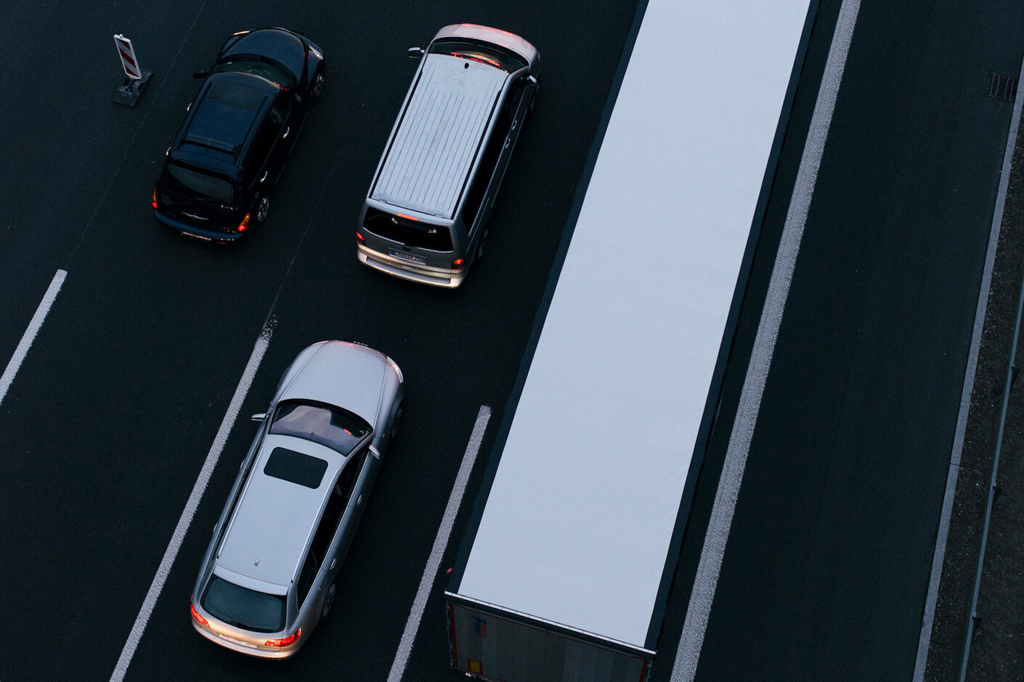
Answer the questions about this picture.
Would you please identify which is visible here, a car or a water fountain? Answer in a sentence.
Visible in the photo is a car.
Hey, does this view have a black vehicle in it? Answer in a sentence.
Yes, a black vehicle appears in the view.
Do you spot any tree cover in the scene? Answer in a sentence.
No, no tree cover is visible.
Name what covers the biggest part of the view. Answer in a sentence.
The bulk of the photo consists of paved ground.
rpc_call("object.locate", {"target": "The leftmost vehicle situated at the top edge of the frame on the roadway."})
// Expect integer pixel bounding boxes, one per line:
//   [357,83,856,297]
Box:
[152,26,325,243]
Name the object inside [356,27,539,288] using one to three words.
van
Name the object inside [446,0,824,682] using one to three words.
trailer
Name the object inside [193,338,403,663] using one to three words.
car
